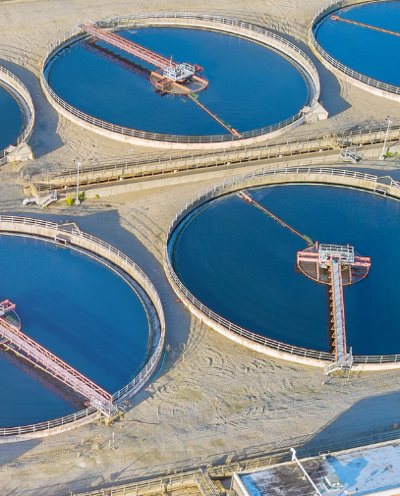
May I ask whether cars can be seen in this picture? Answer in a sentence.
No, the photo shows no car.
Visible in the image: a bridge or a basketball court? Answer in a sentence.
There is a bridge in the scene.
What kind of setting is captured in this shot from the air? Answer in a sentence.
This image shows an industrial area.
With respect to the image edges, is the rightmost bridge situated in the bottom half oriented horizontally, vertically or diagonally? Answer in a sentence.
In this picture, the rightmost bridge situated in the bottom half lies vertically.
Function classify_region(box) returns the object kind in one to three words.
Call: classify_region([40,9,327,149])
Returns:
storage tank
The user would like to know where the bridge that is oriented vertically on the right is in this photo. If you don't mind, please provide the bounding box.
[318,253,359,376]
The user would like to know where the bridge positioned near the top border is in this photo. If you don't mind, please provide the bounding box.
[64,14,176,68]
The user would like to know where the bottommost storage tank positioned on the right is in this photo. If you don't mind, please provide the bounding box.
[164,166,400,376]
